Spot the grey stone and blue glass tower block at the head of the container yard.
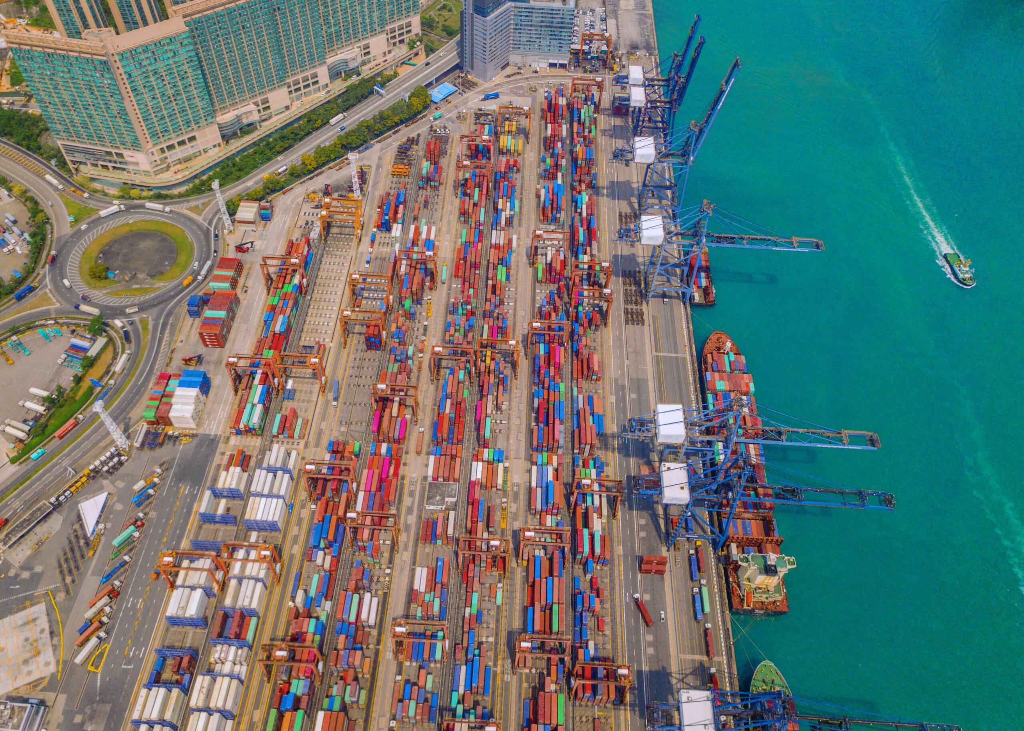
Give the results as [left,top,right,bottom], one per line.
[465,0,577,81]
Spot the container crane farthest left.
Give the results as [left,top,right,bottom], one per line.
[155,549,227,596]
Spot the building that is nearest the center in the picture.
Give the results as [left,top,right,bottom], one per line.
[425,481,458,510]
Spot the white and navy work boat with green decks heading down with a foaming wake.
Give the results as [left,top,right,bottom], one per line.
[941,253,974,291]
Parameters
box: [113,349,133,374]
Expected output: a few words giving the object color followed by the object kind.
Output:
white vehicle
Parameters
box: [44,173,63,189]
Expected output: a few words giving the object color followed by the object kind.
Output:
white vehicle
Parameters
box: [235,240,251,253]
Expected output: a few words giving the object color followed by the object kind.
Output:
red vehicle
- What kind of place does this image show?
port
